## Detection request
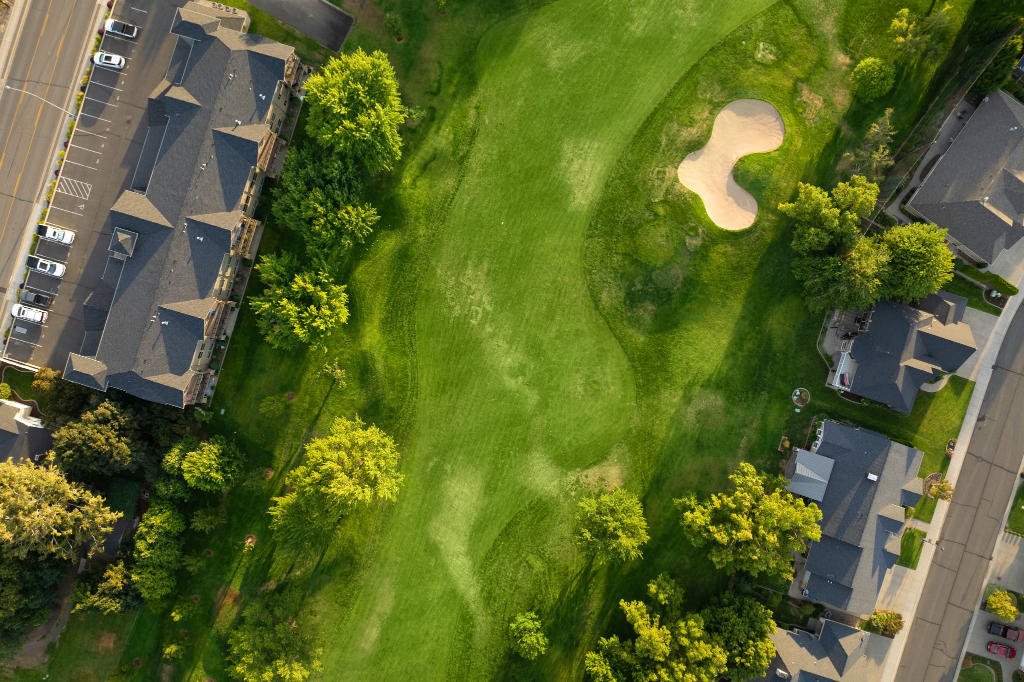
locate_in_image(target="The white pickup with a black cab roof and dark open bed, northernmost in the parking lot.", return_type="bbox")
[105,19,142,40]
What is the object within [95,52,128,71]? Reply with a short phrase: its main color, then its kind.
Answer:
white car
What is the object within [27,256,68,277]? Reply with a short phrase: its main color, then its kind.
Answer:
white truck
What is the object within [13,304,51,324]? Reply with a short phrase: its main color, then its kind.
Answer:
white car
